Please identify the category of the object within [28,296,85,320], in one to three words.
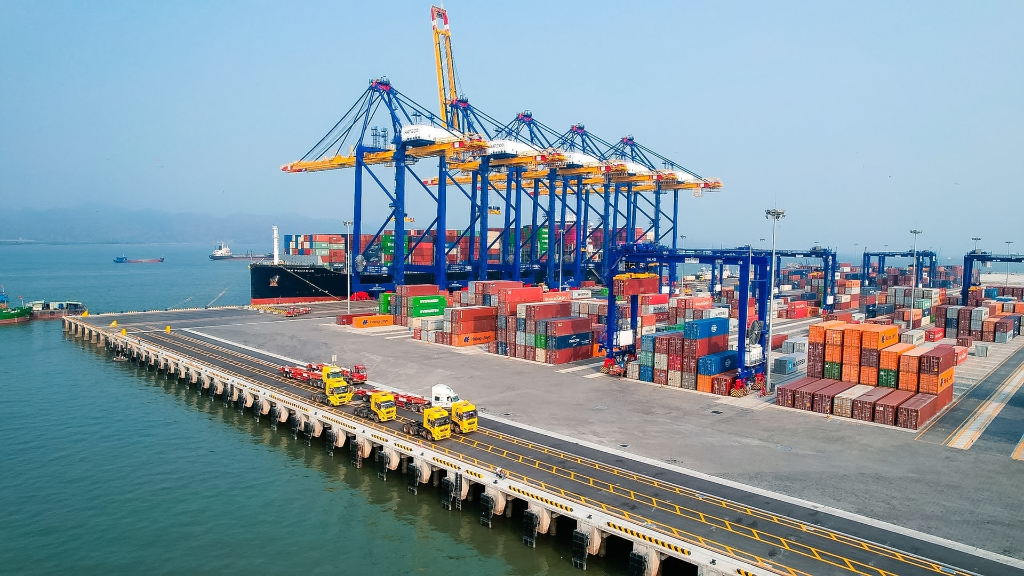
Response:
ship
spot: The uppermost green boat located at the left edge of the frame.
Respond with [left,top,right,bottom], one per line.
[0,287,32,321]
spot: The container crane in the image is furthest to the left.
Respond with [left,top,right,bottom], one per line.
[278,71,496,303]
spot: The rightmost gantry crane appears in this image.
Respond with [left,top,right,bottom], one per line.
[961,249,1024,304]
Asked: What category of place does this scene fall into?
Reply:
port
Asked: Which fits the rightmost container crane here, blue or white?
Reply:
blue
